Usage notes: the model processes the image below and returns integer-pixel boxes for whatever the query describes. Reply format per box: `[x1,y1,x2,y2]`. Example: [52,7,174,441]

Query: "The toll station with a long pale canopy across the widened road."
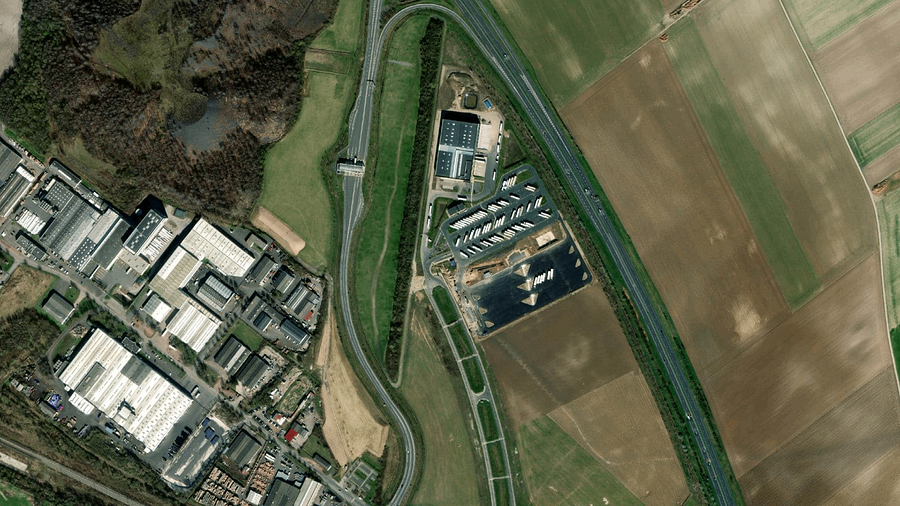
[336,159,366,178]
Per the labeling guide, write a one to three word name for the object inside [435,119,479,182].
building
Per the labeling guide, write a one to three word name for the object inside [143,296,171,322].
building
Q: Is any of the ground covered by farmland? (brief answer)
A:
Yes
